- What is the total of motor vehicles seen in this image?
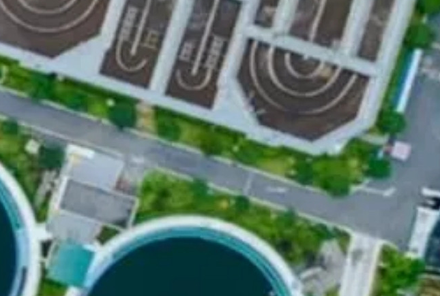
0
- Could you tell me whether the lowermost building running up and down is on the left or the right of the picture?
right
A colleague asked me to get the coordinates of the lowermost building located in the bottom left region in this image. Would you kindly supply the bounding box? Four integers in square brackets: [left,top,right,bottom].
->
[45,207,101,245]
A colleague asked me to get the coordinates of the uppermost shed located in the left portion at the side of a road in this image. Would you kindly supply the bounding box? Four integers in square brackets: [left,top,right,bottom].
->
[63,145,124,191]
